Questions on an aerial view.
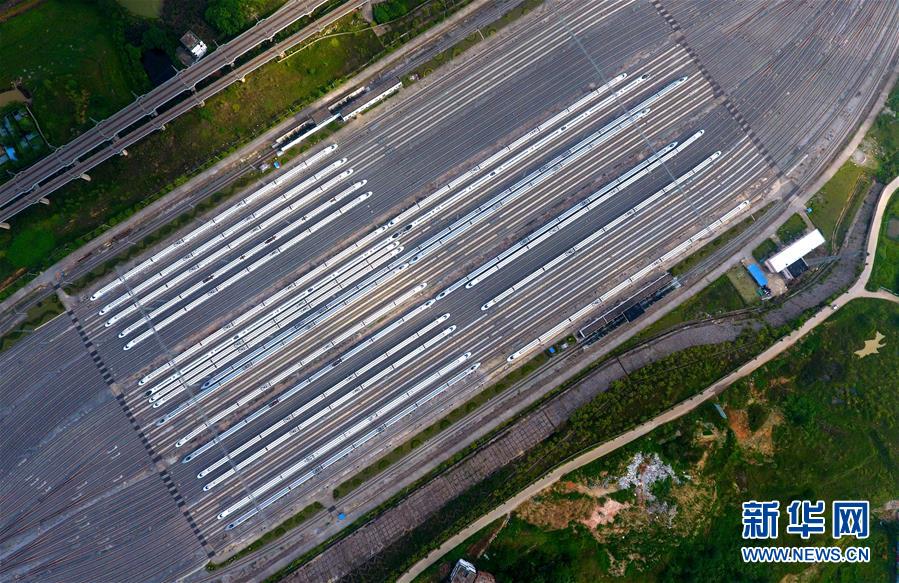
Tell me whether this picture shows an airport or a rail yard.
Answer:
rail yard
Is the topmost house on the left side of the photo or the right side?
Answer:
left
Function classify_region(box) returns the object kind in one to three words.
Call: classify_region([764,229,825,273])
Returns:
building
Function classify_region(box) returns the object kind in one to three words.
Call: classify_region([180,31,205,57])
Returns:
house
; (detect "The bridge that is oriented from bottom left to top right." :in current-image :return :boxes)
[0,0,324,209]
